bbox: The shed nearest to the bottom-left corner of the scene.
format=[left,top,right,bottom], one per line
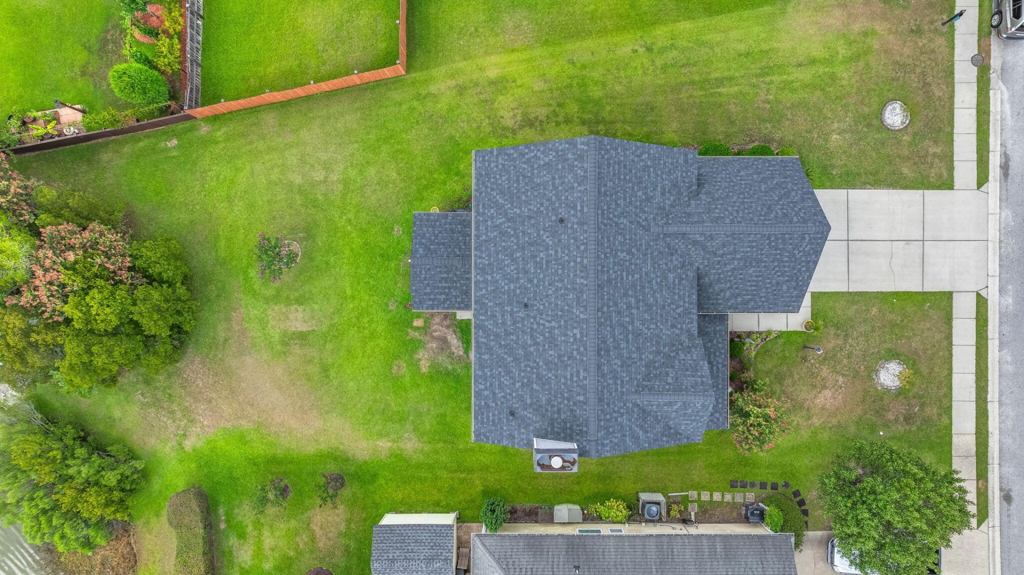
[371,510,458,575]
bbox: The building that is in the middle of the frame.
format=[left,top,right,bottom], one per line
[410,136,831,474]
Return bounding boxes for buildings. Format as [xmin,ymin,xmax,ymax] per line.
[410,136,831,474]
[471,522,798,575]
[371,510,458,575]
